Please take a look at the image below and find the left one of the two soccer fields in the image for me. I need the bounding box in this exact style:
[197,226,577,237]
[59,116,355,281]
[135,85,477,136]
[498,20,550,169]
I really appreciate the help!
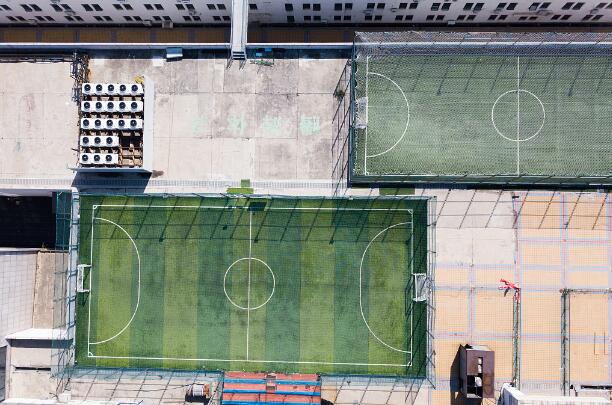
[76,198,427,377]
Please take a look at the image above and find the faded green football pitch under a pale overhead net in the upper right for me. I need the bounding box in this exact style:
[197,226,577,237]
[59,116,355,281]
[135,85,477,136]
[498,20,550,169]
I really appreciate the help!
[353,54,612,181]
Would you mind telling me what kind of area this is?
sports ground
